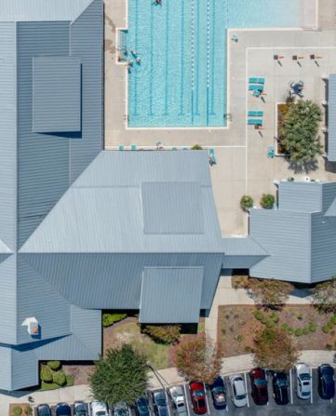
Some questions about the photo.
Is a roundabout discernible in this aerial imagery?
No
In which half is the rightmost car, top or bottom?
bottom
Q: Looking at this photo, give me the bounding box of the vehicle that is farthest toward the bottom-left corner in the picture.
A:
[36,399,52,416]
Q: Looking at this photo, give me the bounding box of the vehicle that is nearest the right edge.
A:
[315,364,336,400]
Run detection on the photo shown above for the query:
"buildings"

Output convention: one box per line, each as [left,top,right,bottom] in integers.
[0,0,225,392]
[236,179,336,284]
[323,74,336,162]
